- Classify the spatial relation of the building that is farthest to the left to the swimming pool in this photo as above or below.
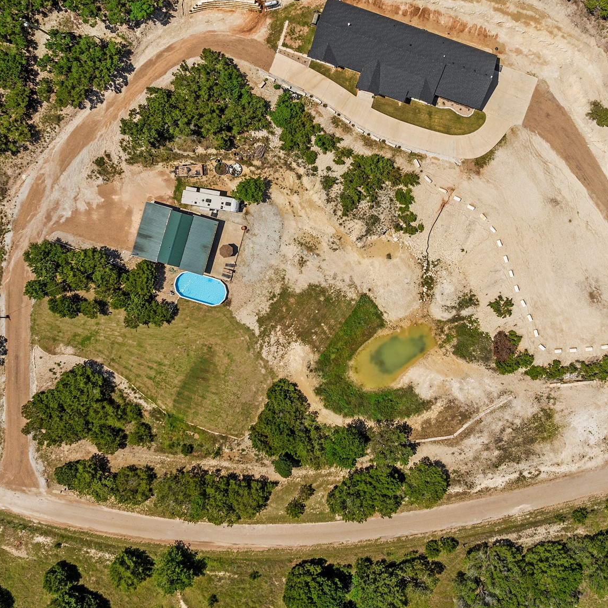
above it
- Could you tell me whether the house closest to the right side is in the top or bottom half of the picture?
top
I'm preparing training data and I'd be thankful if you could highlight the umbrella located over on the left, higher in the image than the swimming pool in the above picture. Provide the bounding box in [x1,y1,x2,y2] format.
[220,244,234,258]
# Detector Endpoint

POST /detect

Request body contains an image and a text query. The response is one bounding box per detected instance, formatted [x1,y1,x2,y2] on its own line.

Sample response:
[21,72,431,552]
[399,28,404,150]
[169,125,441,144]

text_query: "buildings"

[308,0,497,109]
[132,202,219,276]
